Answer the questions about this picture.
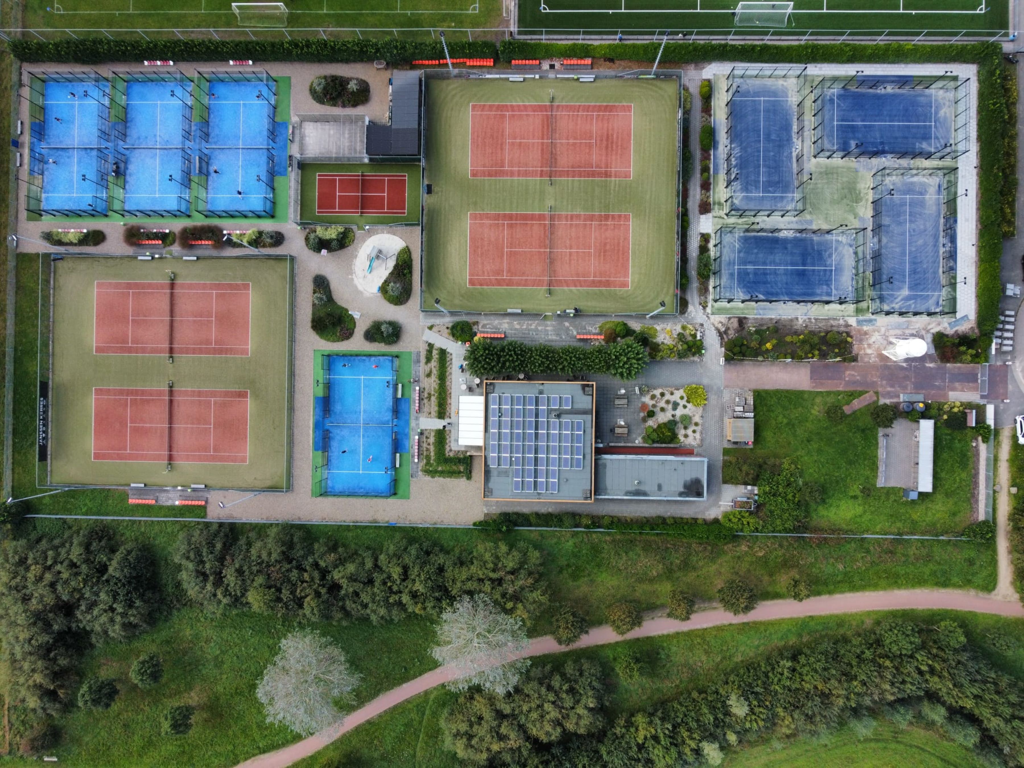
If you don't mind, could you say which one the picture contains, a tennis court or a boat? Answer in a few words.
tennis court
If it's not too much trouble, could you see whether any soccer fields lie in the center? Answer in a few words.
No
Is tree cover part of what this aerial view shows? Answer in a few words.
Yes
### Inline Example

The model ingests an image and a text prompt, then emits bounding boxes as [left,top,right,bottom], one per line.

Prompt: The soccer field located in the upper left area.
[22,0,510,40]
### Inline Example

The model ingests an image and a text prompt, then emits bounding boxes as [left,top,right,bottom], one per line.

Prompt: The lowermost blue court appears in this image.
[312,354,398,498]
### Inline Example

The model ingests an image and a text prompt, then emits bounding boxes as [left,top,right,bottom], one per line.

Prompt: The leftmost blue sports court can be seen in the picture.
[13,70,111,217]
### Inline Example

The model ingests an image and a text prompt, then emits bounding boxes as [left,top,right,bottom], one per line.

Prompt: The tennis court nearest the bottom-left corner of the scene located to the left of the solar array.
[92,382,249,469]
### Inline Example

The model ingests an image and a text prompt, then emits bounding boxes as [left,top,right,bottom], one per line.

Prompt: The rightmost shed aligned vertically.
[909,420,934,492]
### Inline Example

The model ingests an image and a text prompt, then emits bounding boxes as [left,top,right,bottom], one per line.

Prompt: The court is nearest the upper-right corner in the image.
[813,67,970,160]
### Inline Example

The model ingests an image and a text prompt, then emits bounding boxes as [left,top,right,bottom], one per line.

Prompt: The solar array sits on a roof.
[490,394,584,492]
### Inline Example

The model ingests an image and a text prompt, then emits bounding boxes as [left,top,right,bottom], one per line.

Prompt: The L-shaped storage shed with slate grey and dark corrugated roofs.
[366,71,421,159]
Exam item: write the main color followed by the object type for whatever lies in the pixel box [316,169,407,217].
red tennis court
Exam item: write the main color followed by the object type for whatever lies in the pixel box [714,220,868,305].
blue sports court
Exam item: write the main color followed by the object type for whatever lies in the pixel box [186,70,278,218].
blue sports court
